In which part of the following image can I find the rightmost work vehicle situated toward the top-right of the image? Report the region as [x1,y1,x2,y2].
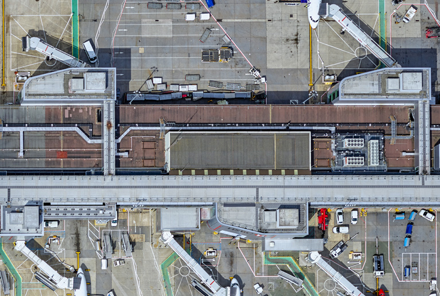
[423,25,440,38]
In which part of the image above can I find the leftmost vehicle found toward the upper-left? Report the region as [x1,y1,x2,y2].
[81,38,97,63]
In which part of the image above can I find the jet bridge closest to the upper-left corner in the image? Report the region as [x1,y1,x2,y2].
[19,37,94,67]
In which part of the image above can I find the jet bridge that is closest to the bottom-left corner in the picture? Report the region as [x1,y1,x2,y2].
[13,239,80,291]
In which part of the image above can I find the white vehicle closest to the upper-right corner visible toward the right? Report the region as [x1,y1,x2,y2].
[403,5,418,22]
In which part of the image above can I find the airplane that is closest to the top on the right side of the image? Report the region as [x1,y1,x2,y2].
[308,0,322,28]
